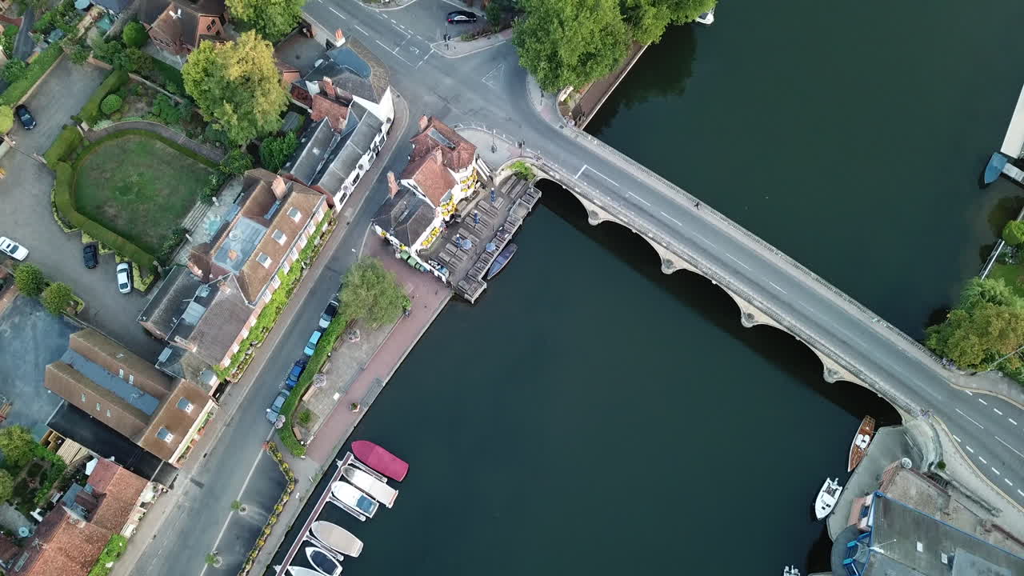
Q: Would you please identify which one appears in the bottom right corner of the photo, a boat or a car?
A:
boat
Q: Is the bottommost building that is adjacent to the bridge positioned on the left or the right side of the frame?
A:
right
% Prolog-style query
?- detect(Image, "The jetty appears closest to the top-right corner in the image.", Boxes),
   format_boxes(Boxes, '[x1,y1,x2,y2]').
[1000,95,1024,160]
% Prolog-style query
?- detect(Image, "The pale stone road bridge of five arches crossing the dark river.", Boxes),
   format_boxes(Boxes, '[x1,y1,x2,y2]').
[531,119,958,421]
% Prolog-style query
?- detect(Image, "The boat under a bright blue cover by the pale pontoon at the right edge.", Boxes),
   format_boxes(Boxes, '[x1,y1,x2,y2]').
[982,152,1011,186]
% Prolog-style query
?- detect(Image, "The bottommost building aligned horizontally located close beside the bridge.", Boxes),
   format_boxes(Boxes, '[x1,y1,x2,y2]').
[814,490,1024,576]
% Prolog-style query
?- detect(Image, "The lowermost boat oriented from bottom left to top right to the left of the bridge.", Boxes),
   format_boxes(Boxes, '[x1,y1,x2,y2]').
[488,243,518,280]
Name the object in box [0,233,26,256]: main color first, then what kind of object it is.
white car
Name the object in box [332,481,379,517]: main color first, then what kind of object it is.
white boat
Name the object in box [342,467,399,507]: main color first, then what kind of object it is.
white boat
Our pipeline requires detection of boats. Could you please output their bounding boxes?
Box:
[982,152,1011,186]
[305,547,344,576]
[693,9,715,27]
[488,243,518,280]
[342,467,399,507]
[353,442,410,482]
[848,415,877,472]
[782,567,800,576]
[311,521,367,562]
[332,481,379,517]
[815,477,844,520]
